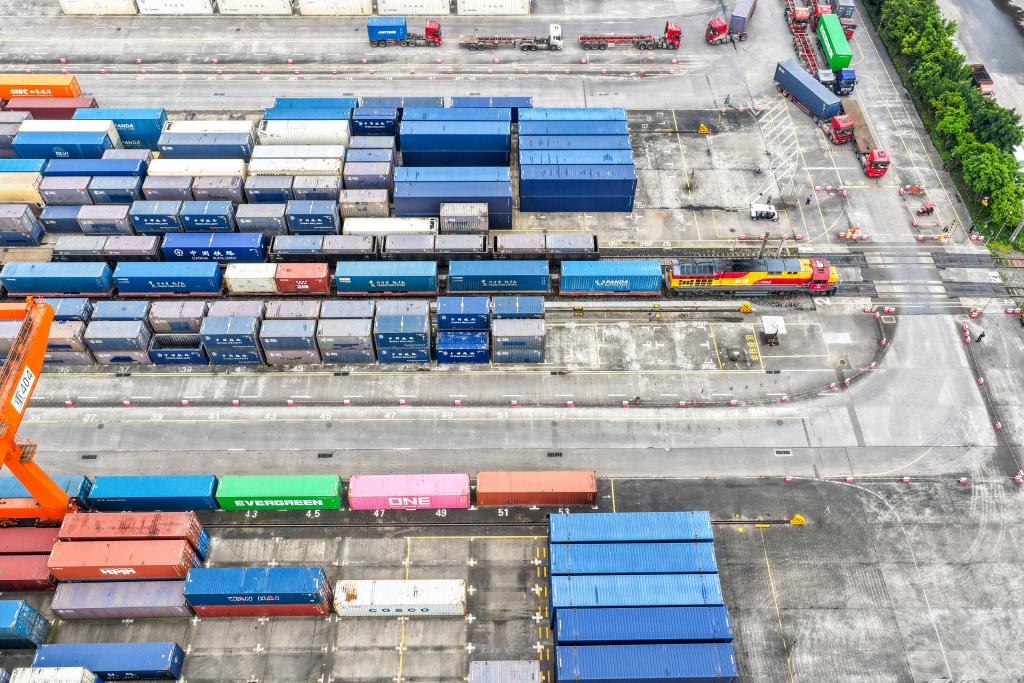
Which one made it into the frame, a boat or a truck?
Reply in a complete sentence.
Visible in the photo is a truck.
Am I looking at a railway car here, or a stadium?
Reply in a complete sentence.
Visible in the photo is a railway car.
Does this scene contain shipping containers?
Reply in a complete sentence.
Yes, the image includes a shipping container.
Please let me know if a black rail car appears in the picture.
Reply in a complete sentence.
Yes, a black rail car appears in the view.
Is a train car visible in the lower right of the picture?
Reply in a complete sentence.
No, no train car is visible in the lower right of the picture.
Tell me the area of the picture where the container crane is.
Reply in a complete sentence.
The container crane is in the left part of the image.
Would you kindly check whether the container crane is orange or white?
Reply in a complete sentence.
In this view, the container crane is orange.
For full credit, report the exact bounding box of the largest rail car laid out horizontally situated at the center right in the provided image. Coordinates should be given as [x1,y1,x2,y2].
[660,260,837,295]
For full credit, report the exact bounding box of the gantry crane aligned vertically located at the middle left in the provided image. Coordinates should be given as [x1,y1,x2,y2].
[0,301,75,527]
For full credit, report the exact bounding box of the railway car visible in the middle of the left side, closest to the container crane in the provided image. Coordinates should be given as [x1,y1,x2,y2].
[3,280,117,297]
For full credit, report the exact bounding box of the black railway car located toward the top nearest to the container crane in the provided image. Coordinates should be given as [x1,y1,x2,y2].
[52,237,165,267]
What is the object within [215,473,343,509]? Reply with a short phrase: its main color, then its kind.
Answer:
green shipping container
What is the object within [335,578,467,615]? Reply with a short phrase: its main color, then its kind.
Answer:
white shipping container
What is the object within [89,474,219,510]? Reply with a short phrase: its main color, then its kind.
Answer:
blue shipping container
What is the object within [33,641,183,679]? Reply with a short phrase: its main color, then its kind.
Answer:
blue shipping container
